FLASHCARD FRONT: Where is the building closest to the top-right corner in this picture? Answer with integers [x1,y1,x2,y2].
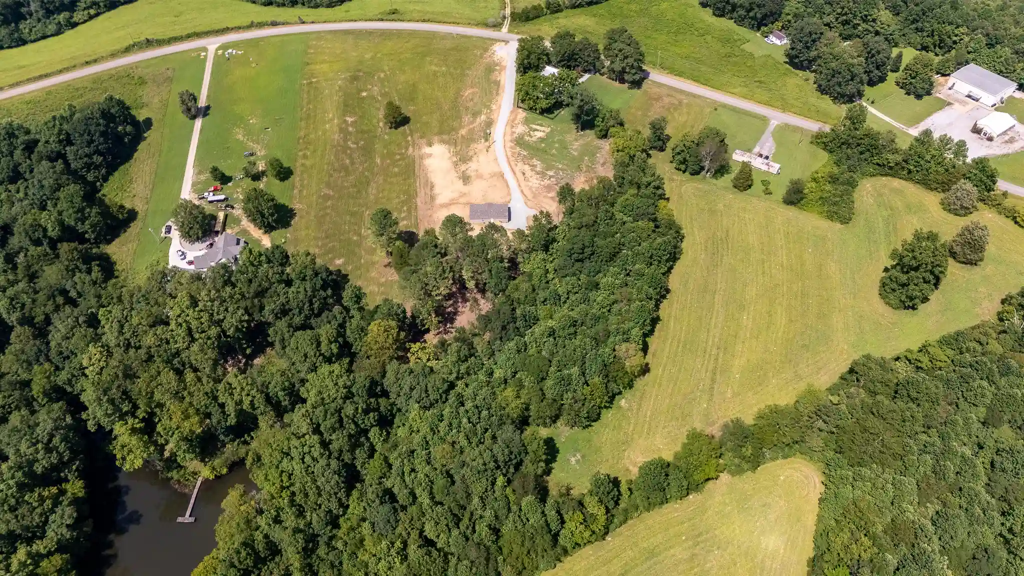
[946,61,1010,106]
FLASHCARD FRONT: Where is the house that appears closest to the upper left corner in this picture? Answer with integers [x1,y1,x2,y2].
[193,234,243,272]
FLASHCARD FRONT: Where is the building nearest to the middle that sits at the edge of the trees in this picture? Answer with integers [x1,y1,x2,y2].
[470,201,508,226]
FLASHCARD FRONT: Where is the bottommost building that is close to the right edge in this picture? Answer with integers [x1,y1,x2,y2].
[977,110,1017,139]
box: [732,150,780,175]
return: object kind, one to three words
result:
house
